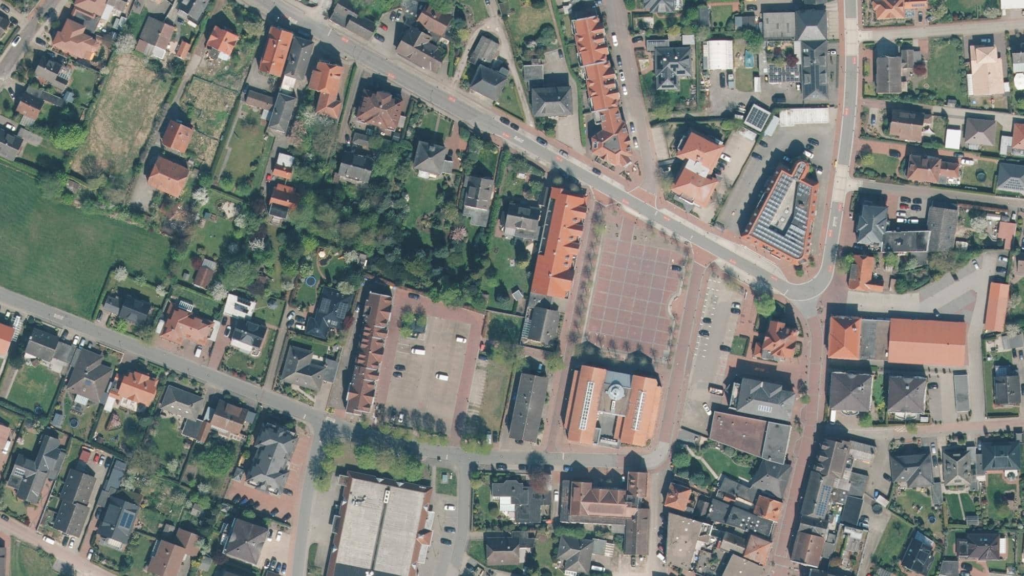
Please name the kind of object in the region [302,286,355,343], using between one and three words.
house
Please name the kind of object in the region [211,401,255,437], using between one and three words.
house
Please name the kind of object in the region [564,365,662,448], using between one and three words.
building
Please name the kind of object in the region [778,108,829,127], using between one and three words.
shed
